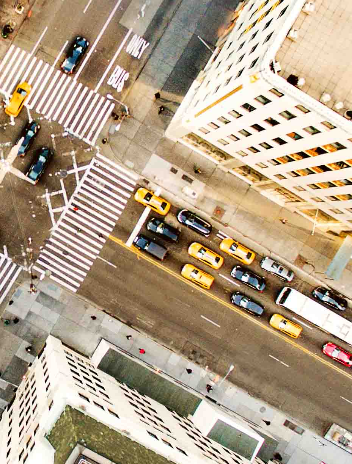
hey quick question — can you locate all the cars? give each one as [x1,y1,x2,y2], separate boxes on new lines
[186,241,226,271]
[26,146,54,187]
[5,79,31,119]
[175,209,214,238]
[228,289,269,319]
[266,311,305,341]
[258,255,295,284]
[309,285,350,314]
[132,187,173,217]
[60,36,89,76]
[320,340,352,369]
[144,215,182,244]
[14,119,43,160]
[178,261,218,291]
[228,265,269,294]
[218,237,258,267]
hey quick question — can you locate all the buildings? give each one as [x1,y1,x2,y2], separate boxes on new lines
[162,0,352,279]
[0,334,285,464]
